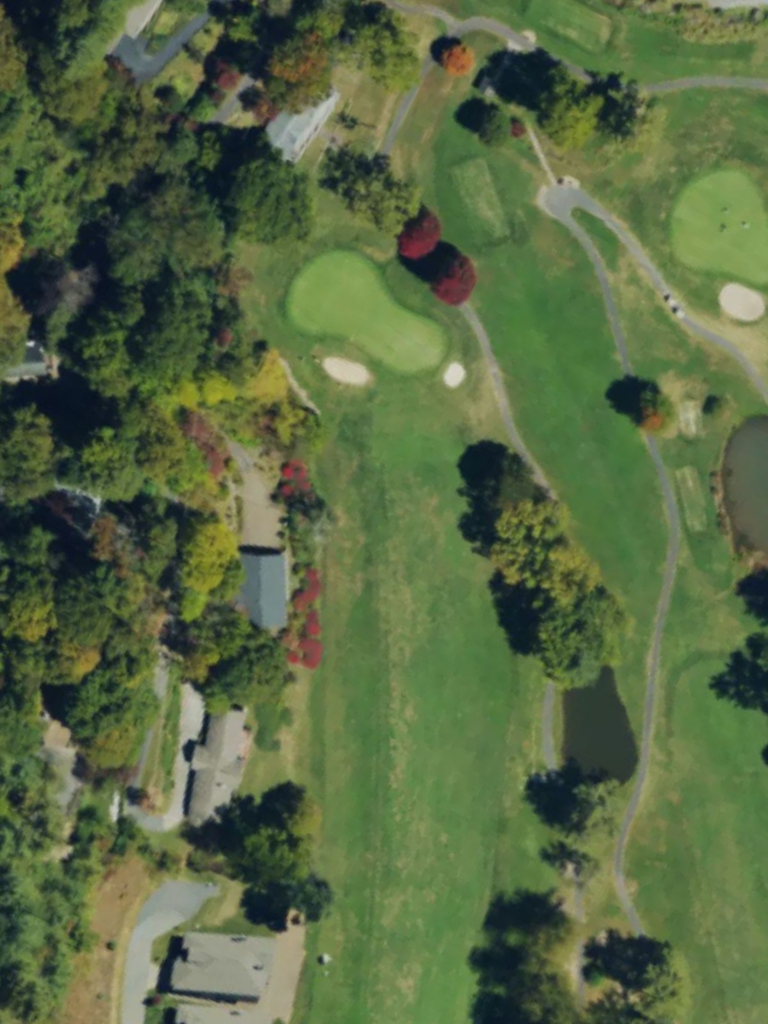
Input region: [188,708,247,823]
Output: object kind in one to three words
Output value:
house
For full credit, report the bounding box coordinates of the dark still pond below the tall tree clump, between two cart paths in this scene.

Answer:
[562,665,639,779]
